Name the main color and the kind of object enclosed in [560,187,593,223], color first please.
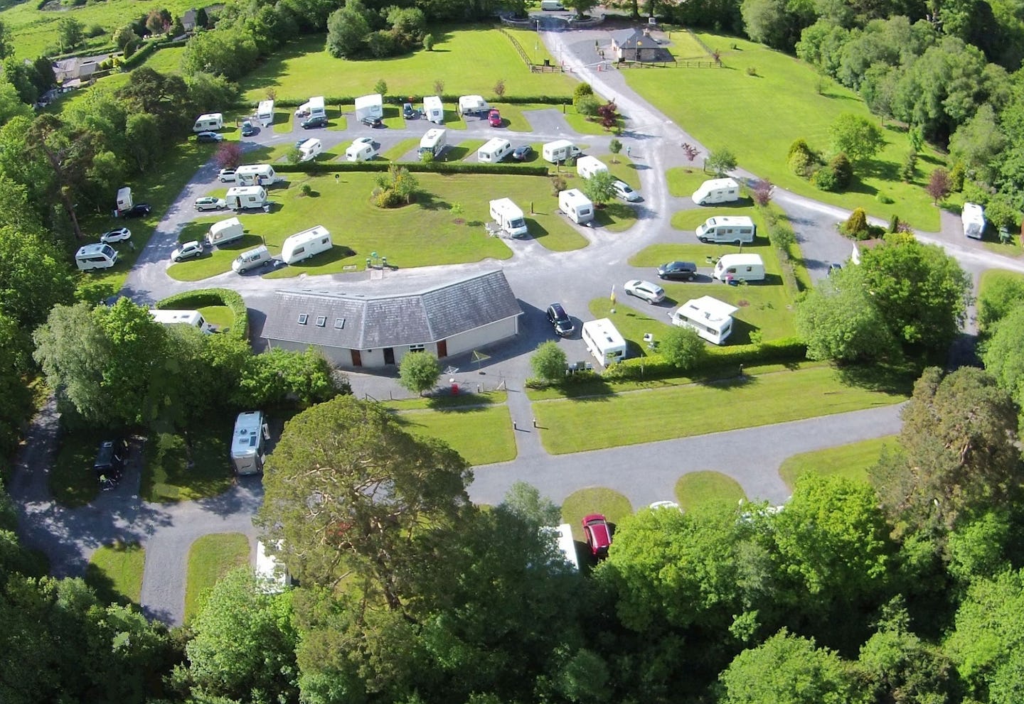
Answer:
white camper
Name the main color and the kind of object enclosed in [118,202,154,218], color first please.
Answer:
black car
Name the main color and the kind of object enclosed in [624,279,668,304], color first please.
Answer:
white car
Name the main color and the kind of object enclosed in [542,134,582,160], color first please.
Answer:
white camper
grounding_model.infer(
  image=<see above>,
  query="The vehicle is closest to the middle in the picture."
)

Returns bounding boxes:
[549,302,573,335]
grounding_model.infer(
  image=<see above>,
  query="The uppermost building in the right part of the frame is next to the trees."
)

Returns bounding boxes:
[613,21,660,61]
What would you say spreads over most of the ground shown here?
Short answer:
trees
